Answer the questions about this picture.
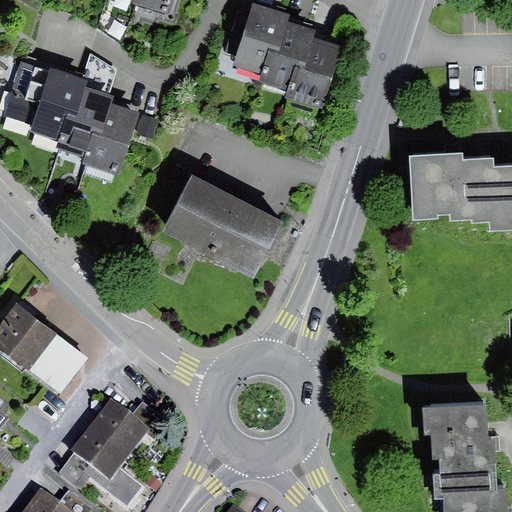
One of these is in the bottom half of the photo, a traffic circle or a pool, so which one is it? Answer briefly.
traffic circle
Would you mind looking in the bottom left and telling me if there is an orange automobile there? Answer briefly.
No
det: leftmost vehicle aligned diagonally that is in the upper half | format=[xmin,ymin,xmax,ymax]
[196,152,213,174]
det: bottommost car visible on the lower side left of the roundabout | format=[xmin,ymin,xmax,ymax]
[46,449,66,470]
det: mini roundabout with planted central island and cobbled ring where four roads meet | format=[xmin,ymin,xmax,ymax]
[196,337,326,474]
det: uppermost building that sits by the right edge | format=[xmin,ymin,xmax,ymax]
[409,152,512,232]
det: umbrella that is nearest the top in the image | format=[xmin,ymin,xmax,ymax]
[108,19,127,40]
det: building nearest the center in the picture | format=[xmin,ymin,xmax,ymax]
[164,174,282,280]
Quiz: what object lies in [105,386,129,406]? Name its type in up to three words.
vehicle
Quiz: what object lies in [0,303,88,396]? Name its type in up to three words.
house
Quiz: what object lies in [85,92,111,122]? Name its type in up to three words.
solar panel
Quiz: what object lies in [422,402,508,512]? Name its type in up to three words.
building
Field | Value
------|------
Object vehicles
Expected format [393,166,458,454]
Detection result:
[253,494,271,512]
[448,64,460,94]
[105,386,129,406]
[38,400,60,422]
[44,392,66,412]
[140,382,159,400]
[132,82,145,106]
[474,67,485,90]
[196,152,213,174]
[302,382,312,404]
[124,364,144,387]
[274,500,288,512]
[145,91,157,115]
[309,307,322,332]
[128,393,141,408]
[46,449,66,470]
